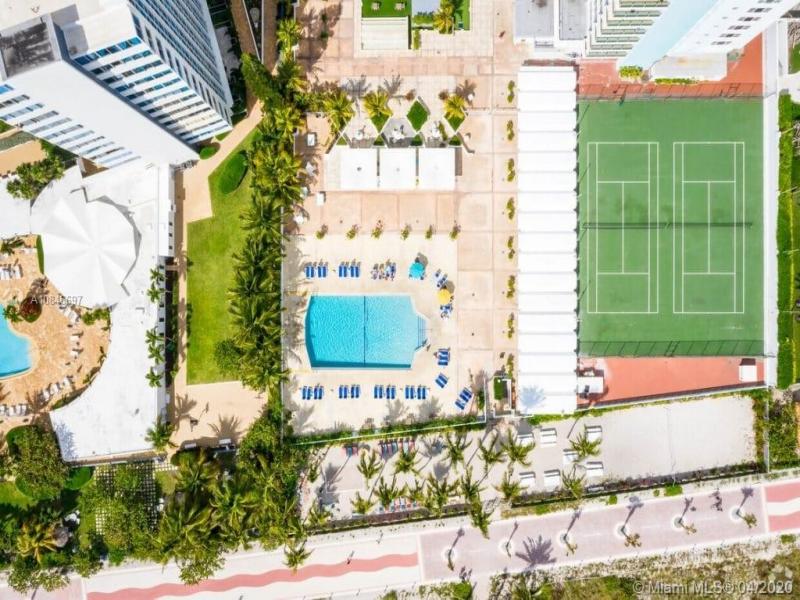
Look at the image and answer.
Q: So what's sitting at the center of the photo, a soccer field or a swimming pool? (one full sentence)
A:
What appears at the center of the photo is a swimming pool.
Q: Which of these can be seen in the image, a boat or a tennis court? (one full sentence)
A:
There is a tennis court in the scene.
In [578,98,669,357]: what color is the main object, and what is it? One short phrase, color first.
green tennis court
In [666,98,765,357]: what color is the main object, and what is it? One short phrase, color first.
green tennis court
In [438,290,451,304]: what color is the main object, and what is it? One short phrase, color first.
yellow umbrella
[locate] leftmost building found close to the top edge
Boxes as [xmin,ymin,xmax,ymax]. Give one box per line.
[0,0,232,170]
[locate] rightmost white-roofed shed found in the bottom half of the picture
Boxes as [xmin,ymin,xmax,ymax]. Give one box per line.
[578,377,605,394]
